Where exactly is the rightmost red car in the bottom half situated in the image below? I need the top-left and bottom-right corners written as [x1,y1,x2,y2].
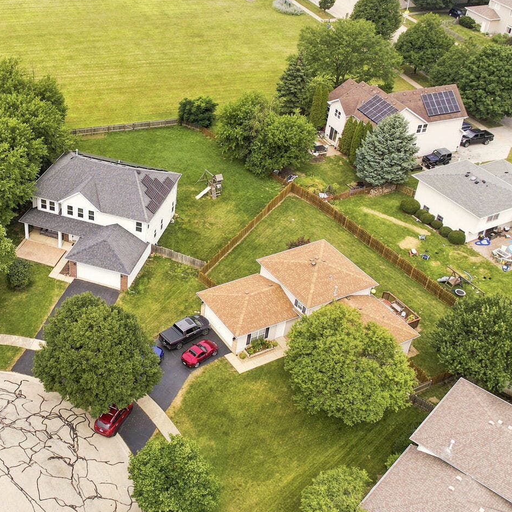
[176,343,222,370]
